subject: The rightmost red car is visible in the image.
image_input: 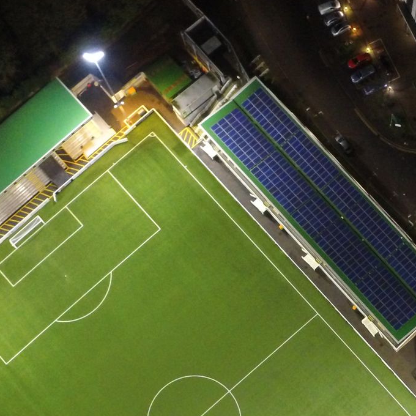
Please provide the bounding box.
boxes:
[348,51,373,69]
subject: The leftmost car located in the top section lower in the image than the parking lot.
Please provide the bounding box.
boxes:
[335,134,353,155]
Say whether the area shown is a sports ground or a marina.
sports ground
